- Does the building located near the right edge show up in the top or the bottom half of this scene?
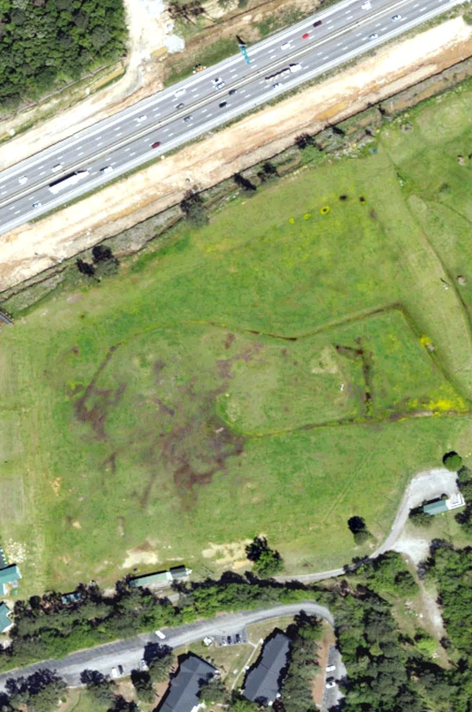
bottom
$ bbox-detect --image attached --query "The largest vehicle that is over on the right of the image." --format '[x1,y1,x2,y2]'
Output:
[269,65,299,83]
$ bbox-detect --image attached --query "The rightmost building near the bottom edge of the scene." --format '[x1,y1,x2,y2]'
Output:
[244,632,295,706]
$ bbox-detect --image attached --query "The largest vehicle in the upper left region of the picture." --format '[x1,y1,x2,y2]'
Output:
[53,171,90,192]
